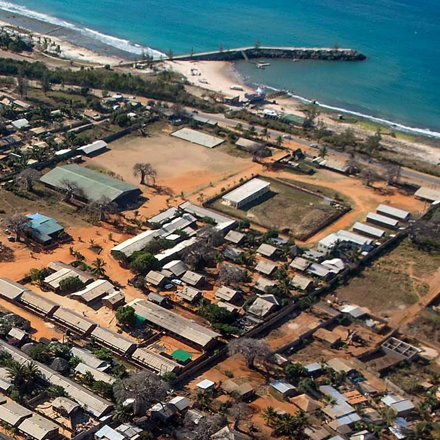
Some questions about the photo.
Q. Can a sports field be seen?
Yes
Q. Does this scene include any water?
Yes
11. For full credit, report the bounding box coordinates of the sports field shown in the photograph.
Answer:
[83,121,266,196]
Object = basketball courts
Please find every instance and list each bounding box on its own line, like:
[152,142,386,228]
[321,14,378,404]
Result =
[170,127,224,148]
